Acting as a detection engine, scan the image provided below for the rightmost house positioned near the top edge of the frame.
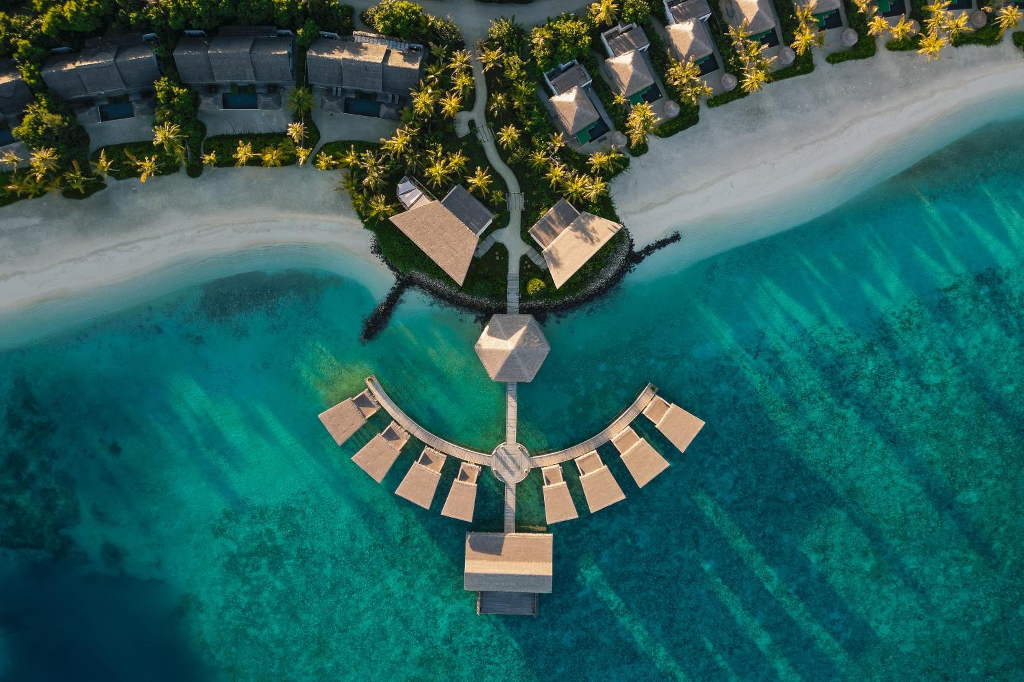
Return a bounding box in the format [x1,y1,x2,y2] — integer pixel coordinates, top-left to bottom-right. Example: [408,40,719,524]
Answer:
[307,28,425,101]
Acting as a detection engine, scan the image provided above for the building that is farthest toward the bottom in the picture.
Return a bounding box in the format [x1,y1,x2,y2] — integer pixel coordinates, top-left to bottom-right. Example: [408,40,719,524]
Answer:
[464,530,553,616]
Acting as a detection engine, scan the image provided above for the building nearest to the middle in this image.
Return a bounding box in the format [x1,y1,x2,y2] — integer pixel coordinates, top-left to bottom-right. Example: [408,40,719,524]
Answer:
[475,314,551,383]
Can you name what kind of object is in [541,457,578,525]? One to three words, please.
house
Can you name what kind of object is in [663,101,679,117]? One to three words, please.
umbrella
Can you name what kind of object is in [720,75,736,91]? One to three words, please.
umbrella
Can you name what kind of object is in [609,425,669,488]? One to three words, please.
house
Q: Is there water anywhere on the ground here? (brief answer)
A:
Yes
